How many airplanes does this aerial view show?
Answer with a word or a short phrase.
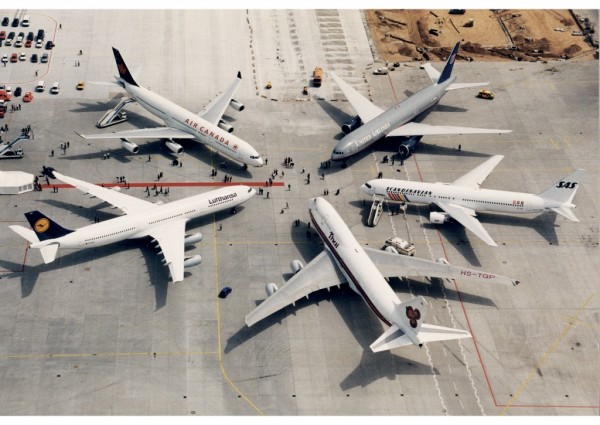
five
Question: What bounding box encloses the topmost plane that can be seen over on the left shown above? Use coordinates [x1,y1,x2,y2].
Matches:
[73,47,270,172]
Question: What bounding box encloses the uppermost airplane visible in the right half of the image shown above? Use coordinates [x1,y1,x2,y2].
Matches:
[332,40,516,166]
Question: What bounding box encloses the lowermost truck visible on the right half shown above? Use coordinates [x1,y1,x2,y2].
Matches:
[384,237,417,259]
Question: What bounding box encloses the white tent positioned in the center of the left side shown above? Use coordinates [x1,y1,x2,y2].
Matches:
[0,170,35,195]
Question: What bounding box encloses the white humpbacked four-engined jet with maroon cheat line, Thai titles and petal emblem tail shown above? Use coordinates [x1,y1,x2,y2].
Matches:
[244,196,519,353]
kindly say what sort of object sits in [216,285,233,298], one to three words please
vehicle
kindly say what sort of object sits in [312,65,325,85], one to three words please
vehicle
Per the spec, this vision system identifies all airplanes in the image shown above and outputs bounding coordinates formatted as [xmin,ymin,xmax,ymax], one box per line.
[7,167,257,284]
[73,47,270,172]
[360,154,585,246]
[244,196,519,353]
[332,40,516,166]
